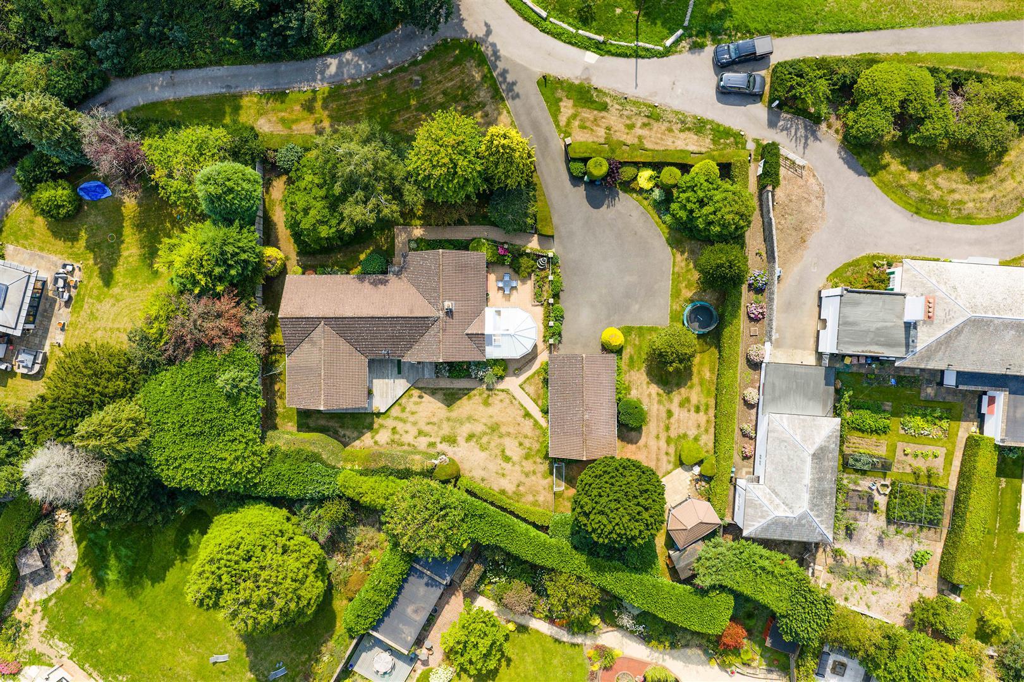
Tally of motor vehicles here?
2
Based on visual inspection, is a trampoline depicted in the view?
Yes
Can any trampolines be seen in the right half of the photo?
Yes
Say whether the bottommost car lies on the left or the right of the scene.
right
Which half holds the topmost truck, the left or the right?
right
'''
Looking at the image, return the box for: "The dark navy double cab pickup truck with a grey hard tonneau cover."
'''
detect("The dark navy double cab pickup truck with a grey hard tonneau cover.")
[712,35,775,68]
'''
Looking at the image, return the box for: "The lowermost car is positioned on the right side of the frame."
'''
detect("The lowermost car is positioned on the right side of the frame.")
[715,70,764,97]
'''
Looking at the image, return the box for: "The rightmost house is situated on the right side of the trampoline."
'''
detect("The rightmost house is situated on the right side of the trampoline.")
[875,258,1024,447]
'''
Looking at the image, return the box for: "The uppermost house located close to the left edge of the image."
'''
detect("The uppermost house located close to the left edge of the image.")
[0,260,50,358]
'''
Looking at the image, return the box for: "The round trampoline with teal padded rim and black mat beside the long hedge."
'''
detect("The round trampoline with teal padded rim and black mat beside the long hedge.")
[678,299,722,334]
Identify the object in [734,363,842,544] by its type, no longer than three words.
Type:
shed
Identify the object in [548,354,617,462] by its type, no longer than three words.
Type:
building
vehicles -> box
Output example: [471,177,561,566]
[715,70,764,97]
[712,35,775,68]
